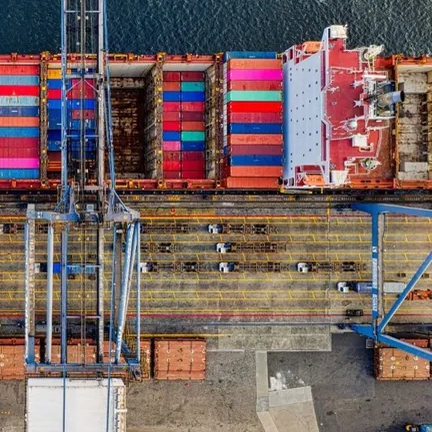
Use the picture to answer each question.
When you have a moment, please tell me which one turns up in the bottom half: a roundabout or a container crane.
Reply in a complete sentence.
There is a container crane in the bottom half.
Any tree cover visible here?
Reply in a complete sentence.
No, there's no tree cover in this view.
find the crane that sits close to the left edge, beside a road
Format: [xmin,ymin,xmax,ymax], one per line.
[16,0,152,432]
